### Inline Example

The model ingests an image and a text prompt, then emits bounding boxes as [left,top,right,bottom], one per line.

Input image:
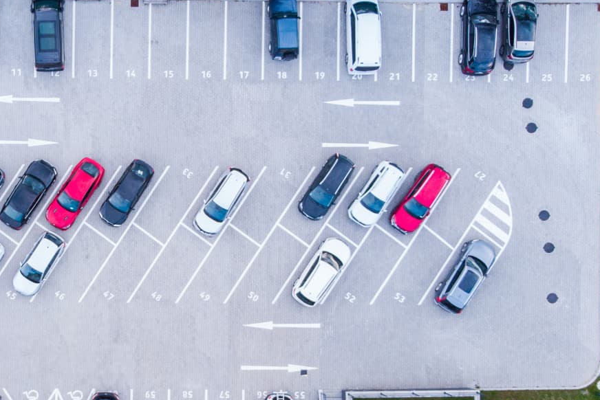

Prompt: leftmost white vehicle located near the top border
[345,0,385,75]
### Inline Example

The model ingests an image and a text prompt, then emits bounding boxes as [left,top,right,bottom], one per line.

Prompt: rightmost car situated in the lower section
[431,237,494,316]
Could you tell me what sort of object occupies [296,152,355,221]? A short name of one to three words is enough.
car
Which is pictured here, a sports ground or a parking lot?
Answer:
parking lot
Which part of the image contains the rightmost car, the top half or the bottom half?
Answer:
top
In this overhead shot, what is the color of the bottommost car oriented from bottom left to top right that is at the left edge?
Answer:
white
